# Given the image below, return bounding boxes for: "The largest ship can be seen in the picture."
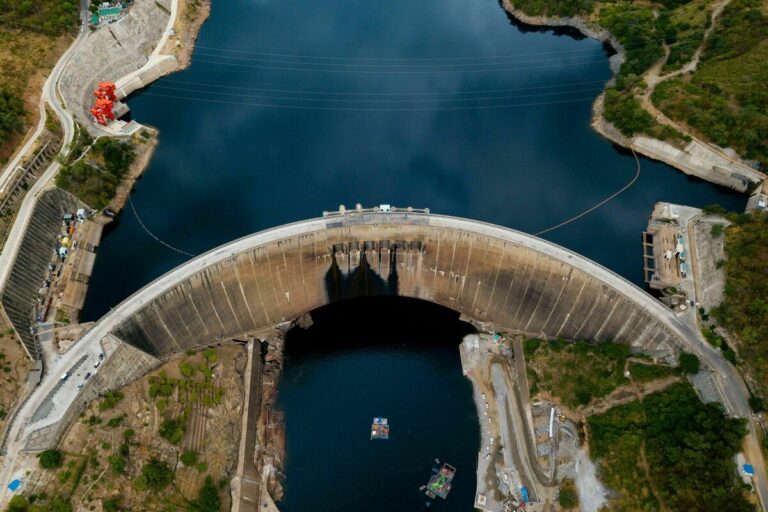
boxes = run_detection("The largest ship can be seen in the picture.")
[425,466,456,500]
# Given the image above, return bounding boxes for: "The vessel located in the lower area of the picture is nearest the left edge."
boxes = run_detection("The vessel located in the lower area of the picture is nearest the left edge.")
[370,416,389,438]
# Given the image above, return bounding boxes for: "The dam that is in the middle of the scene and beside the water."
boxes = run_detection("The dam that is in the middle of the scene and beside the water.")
[89,201,706,358]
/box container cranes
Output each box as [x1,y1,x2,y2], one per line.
[91,78,116,100]
[87,96,114,122]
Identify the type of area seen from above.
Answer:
port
